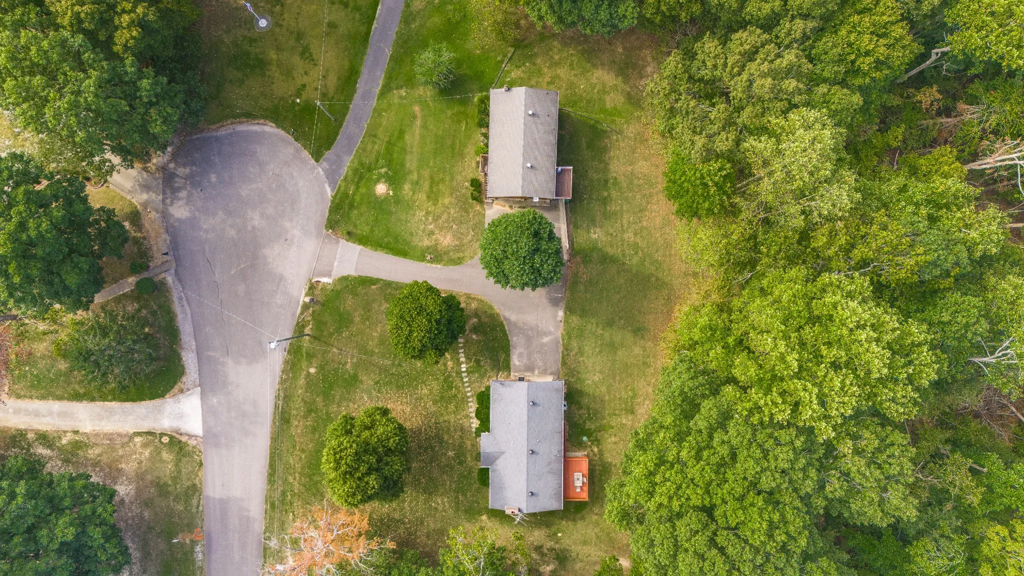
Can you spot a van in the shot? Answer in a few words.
No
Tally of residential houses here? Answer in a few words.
2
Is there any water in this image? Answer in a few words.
No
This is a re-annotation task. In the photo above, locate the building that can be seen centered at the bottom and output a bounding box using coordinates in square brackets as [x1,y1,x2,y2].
[481,380,565,531]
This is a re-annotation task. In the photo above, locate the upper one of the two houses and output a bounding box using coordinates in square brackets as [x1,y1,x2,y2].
[480,86,560,207]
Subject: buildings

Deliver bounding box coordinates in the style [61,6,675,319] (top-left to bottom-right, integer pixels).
[481,380,565,531]
[480,86,560,207]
